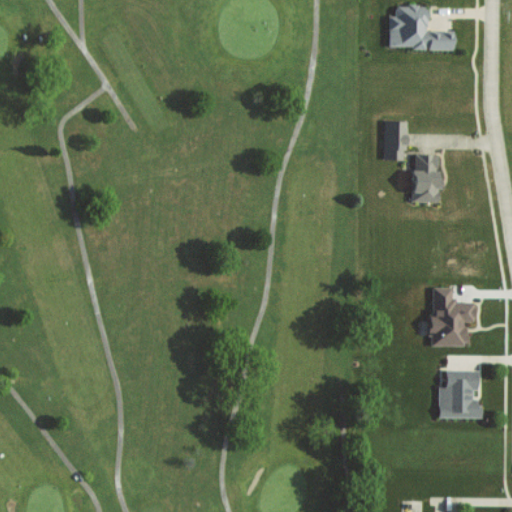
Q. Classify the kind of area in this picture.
golf course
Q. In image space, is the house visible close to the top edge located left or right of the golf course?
to the right of it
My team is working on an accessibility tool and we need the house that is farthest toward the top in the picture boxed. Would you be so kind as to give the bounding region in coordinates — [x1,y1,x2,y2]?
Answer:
[390,3,458,52]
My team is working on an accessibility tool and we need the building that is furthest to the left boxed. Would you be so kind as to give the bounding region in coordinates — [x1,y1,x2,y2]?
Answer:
[384,120,400,161]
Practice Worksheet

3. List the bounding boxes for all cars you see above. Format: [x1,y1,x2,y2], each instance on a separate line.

[462,284,467,296]
[452,8,464,14]
[438,8,450,14]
